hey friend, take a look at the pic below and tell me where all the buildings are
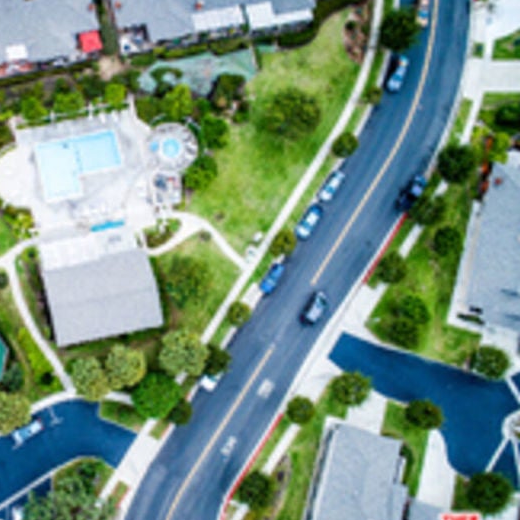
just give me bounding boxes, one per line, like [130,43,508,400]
[311,425,408,520]
[0,0,103,64]
[467,150,520,334]
[39,226,164,346]
[107,0,317,41]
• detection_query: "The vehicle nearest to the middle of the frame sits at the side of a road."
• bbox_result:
[260,262,285,294]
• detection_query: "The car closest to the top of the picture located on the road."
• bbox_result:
[415,0,431,24]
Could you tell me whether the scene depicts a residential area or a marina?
residential area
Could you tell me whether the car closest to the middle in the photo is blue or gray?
blue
